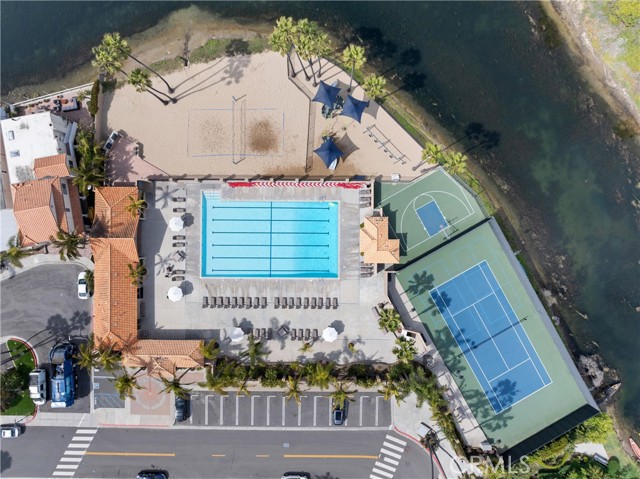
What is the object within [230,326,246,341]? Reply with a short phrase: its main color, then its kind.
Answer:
white umbrella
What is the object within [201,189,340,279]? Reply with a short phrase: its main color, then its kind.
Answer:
blue swimming pool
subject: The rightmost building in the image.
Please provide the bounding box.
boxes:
[359,210,401,265]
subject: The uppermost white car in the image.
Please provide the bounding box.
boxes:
[76,271,91,300]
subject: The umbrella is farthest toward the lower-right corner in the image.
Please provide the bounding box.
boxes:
[322,326,338,341]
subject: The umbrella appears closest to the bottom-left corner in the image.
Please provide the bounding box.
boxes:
[168,286,183,301]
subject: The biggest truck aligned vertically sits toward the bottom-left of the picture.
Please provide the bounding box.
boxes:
[52,341,78,405]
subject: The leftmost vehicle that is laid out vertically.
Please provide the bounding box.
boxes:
[29,368,46,402]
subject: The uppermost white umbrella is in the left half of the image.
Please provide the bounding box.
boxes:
[170,216,185,231]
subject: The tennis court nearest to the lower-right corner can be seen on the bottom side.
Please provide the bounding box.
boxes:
[398,222,589,454]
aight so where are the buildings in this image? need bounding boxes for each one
[88,186,206,377]
[1,112,89,251]
[359,210,401,265]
